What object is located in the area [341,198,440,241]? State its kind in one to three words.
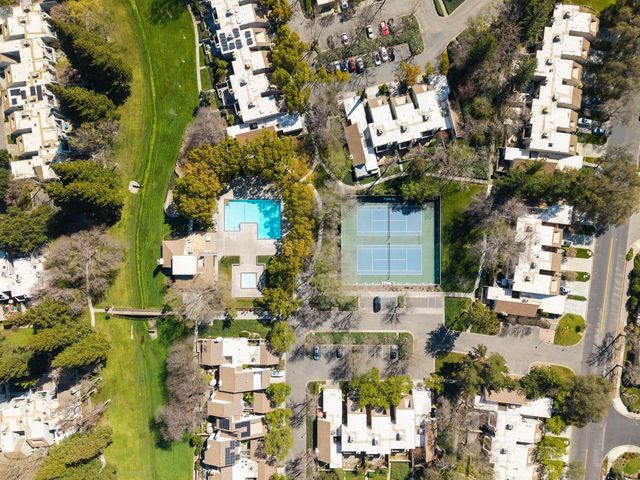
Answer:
tennis court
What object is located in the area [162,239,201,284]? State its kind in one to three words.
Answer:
building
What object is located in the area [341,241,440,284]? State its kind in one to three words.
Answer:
tennis court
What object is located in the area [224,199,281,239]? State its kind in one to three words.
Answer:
swimming pool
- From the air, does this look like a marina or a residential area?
residential area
